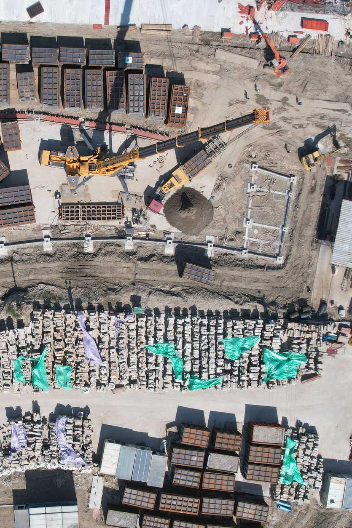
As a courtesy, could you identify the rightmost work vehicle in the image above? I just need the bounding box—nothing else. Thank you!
[297,148,348,173]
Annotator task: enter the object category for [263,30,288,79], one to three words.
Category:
work vehicle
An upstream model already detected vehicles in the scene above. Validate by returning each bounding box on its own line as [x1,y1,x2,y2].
[146,137,227,215]
[297,148,348,173]
[263,30,288,79]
